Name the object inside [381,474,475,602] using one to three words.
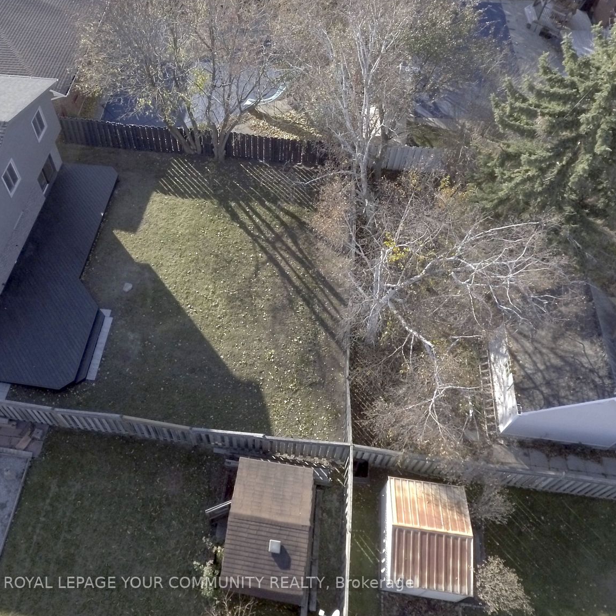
shed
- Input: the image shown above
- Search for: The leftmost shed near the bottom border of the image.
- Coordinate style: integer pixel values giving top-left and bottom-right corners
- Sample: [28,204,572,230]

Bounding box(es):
[221,457,327,614]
